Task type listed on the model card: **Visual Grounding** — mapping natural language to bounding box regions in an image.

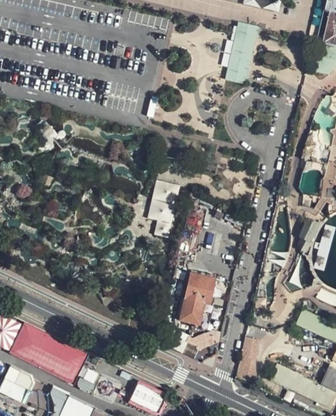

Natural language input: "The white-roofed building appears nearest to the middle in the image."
[148,179,178,235]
